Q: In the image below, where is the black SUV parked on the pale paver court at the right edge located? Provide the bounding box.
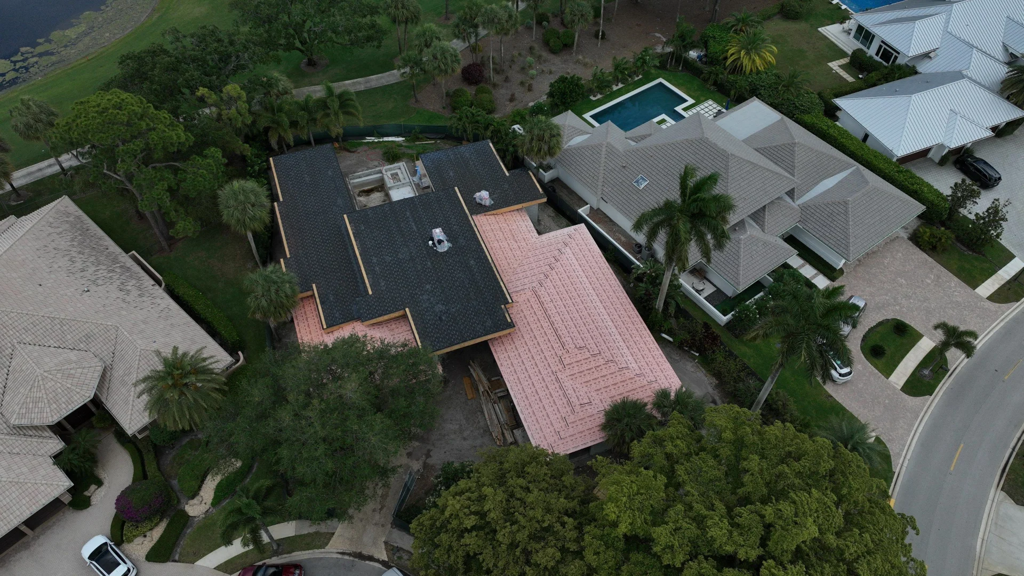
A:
[948,157,1009,195]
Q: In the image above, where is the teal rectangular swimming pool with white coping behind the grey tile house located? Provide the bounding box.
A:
[579,76,698,133]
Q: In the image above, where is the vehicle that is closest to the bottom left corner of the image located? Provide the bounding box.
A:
[81,529,149,576]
